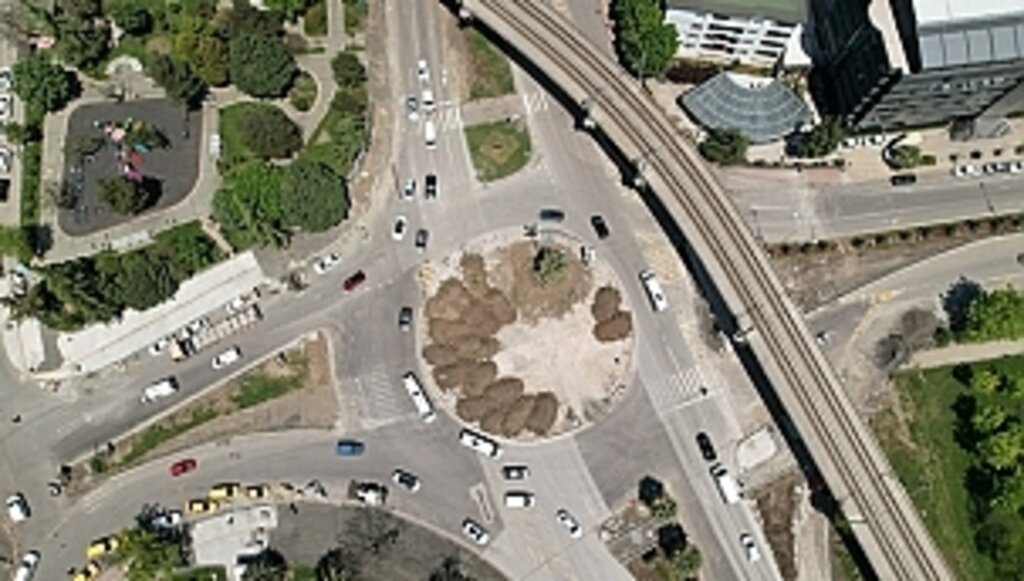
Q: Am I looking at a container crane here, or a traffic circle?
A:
traffic circle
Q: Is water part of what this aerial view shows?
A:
No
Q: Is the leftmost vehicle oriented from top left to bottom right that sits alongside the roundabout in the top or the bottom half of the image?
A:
bottom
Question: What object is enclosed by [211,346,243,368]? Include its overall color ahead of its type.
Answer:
white vehicle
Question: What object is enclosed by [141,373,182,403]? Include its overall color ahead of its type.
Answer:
white van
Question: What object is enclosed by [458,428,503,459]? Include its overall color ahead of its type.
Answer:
white vehicle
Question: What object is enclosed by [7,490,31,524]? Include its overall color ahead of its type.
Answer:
white car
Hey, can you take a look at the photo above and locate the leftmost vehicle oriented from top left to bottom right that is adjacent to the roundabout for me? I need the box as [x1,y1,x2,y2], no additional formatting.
[400,372,436,422]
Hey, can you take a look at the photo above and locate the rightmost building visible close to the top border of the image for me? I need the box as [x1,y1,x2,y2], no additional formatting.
[804,0,1024,126]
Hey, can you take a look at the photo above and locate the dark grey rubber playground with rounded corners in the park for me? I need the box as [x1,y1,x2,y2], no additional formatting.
[57,98,203,237]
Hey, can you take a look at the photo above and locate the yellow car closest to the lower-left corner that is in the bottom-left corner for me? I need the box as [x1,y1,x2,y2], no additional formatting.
[67,561,102,581]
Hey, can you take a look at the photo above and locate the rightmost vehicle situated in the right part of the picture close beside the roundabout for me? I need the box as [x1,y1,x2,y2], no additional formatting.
[638,272,669,312]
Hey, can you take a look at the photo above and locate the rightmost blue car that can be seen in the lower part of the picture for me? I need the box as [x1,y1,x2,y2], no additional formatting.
[335,441,365,456]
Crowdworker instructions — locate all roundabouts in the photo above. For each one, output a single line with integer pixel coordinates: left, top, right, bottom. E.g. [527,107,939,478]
[419,232,635,444]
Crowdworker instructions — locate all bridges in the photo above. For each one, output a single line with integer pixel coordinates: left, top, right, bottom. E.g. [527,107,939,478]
[461,0,952,581]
